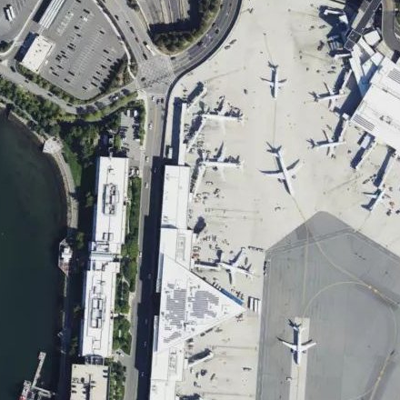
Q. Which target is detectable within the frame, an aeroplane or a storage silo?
aeroplane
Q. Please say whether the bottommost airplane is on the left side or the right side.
right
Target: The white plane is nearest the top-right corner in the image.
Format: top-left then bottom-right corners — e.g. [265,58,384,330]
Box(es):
[309,82,348,113]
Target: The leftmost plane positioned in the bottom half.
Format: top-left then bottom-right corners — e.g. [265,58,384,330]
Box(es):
[217,253,258,289]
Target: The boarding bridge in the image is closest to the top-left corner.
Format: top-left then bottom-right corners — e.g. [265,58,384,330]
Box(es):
[186,85,208,110]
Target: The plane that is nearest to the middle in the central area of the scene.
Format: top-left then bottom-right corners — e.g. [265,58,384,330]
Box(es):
[201,144,247,183]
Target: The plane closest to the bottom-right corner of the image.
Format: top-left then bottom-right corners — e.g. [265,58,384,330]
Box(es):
[282,319,317,366]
